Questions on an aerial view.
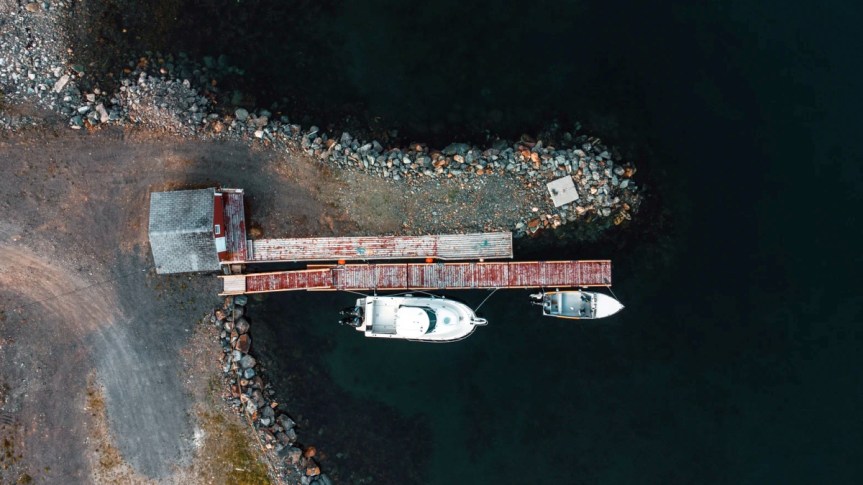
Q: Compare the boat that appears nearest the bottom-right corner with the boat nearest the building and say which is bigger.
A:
the boat nearest the building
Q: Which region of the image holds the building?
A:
left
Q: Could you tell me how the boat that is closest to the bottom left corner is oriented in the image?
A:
from left to right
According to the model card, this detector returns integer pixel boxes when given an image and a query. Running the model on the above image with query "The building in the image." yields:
[148,189,233,273]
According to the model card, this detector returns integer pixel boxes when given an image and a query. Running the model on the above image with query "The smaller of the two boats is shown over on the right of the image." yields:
[526,290,624,319]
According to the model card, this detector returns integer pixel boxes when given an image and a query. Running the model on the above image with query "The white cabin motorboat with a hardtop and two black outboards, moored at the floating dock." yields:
[336,296,488,343]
